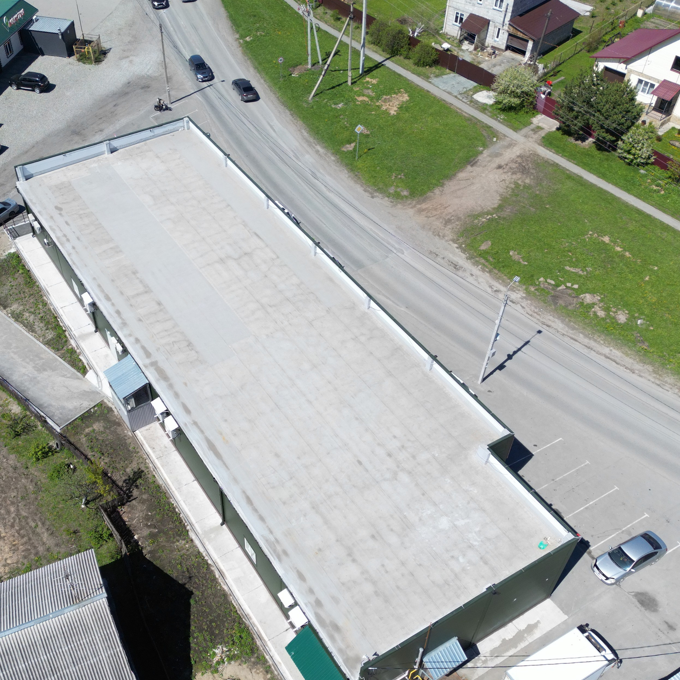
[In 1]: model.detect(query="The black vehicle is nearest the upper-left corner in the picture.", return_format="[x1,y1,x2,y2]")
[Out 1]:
[7,70,50,93]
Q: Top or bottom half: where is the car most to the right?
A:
bottom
